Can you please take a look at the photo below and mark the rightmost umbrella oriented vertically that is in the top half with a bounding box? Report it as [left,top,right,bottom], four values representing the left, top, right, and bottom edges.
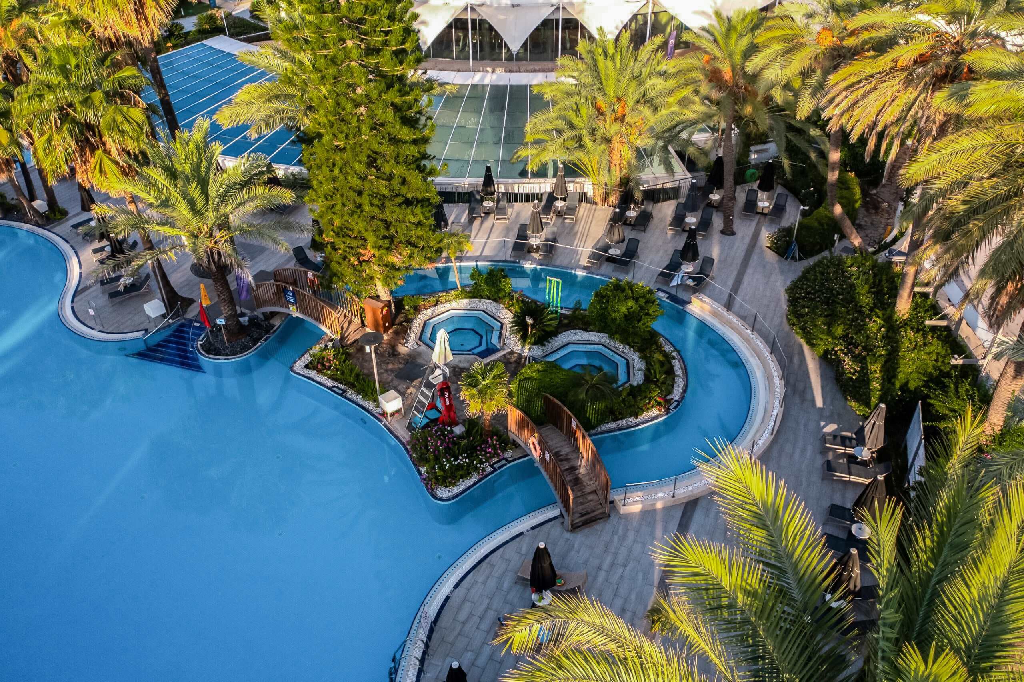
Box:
[756,167,774,218]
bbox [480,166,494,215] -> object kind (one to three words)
umbrella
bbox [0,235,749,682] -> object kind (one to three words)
swimming pool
